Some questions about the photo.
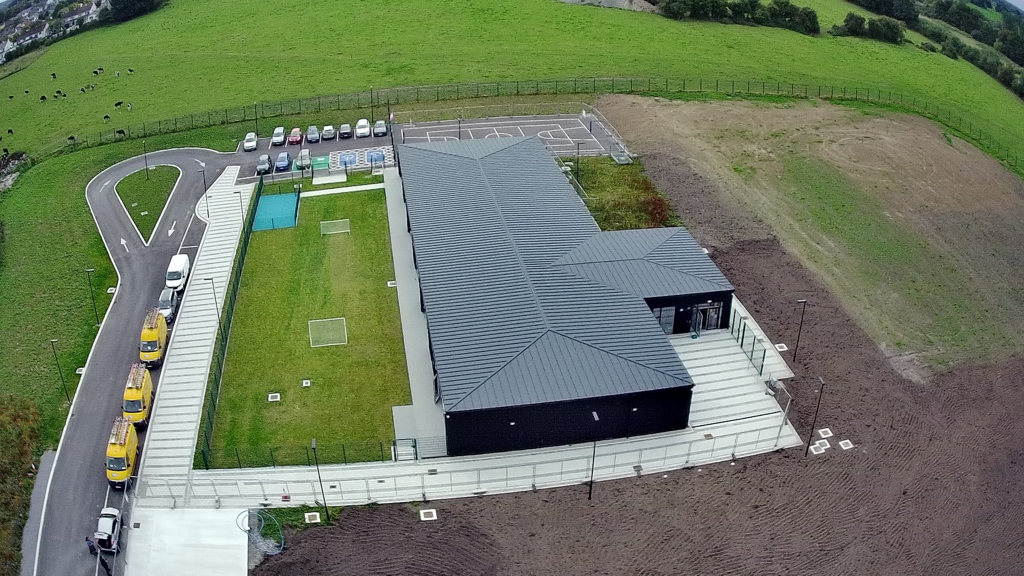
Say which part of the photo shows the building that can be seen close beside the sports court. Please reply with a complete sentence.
The building that can be seen close beside the sports court appears toward the center of the photo.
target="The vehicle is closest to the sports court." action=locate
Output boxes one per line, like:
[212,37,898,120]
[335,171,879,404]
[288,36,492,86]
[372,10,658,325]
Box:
[372,119,387,135]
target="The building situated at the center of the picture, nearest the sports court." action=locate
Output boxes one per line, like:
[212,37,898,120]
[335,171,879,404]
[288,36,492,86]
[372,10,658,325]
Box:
[399,136,734,456]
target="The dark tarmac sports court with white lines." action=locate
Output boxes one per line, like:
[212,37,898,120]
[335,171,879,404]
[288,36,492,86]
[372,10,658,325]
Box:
[393,114,623,169]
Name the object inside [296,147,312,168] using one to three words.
car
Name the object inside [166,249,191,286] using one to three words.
vehicle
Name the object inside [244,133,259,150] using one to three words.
car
